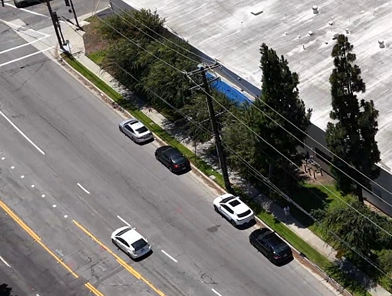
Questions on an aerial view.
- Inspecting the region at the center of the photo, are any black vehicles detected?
Yes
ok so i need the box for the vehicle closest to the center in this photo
[155,147,191,176]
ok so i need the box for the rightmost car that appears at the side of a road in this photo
[249,231,294,268]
